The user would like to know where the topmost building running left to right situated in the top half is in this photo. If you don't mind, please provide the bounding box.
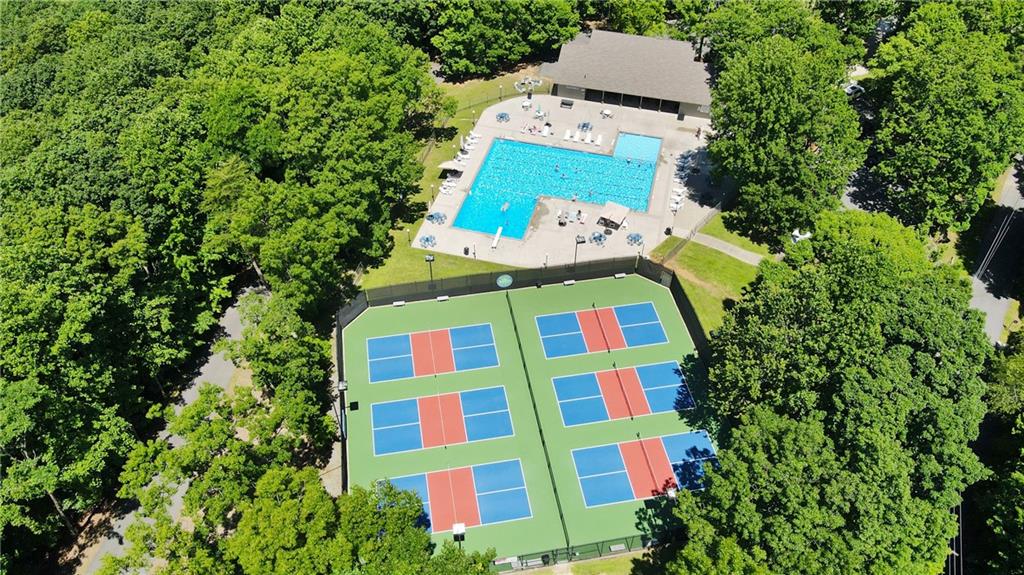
[551,30,713,117]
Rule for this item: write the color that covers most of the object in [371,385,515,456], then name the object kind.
blue sports court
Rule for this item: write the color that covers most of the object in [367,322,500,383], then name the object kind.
blue sports court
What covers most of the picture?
trees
